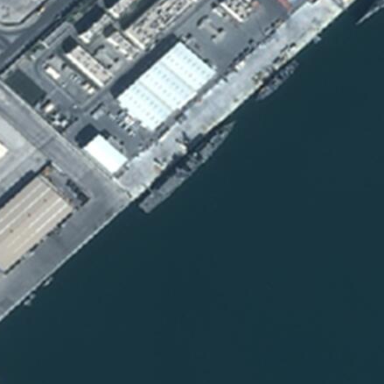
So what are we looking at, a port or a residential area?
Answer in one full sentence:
It's a port.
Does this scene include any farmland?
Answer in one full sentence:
No, farmland can't be seen anywhere here.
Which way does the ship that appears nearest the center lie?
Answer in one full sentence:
The ship that appears nearest the center is oriented at an angle.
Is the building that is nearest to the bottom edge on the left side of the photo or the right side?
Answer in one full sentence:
It is on the left.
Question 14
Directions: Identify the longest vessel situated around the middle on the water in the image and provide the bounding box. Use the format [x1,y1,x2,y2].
[139,120,236,214]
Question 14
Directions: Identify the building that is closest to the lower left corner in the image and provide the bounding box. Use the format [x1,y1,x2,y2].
[0,174,73,272]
